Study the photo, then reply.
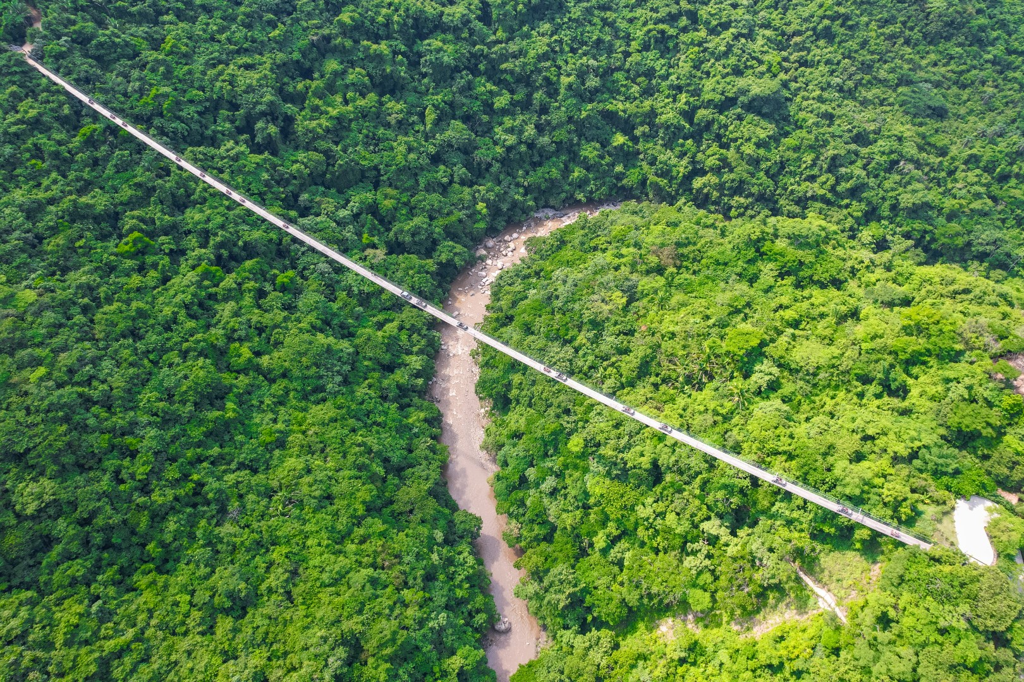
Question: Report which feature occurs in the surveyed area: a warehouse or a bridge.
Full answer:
Looking from above, you can make out a bridge.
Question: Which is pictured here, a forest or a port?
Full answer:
It's a forest.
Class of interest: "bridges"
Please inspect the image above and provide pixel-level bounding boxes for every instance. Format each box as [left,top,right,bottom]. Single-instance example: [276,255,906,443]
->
[19,48,939,569]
